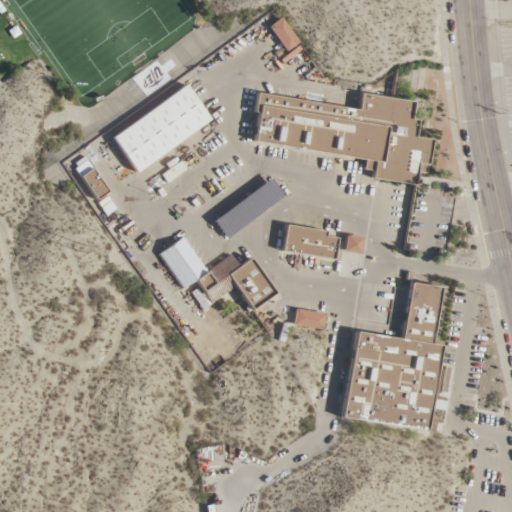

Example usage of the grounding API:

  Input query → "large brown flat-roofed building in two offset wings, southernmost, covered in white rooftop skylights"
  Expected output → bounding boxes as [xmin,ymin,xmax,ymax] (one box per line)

[342,271,445,428]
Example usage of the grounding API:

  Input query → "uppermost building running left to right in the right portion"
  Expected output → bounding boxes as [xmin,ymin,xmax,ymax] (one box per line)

[255,92,436,184]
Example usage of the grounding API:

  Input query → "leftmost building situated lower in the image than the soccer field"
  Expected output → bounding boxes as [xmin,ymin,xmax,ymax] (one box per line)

[82,170,110,199]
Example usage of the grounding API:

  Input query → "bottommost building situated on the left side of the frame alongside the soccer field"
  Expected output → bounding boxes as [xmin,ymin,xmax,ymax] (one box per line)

[112,85,213,172]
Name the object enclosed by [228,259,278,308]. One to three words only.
building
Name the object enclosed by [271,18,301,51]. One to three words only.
house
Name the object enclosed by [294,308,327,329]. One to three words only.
house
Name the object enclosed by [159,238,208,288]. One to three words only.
shed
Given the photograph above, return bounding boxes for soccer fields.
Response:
[6,0,196,108]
